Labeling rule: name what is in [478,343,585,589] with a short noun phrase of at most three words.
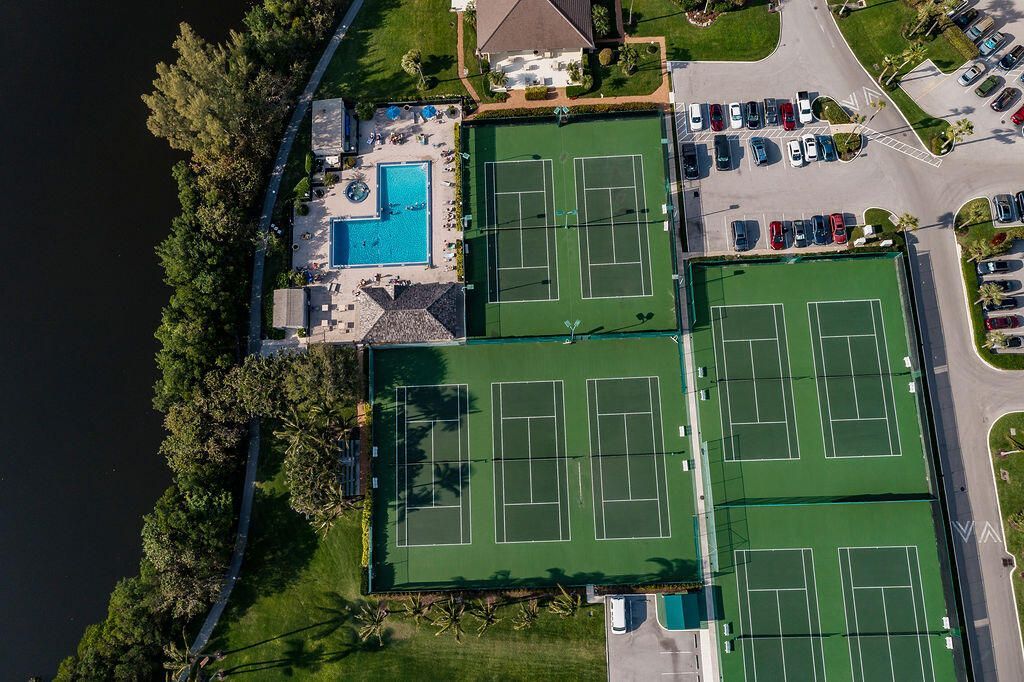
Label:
tennis court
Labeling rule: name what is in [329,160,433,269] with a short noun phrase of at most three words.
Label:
swimming pool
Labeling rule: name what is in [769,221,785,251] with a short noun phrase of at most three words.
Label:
car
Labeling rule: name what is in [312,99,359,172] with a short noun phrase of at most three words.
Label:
shed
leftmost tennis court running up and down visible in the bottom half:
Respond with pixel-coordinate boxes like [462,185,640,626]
[372,344,485,592]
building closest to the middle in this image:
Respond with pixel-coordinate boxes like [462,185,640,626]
[360,283,466,342]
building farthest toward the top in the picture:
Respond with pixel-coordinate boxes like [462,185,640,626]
[477,0,594,59]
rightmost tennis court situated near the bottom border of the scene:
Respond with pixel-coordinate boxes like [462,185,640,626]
[818,502,958,682]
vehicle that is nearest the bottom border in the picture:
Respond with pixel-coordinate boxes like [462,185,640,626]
[610,594,627,633]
